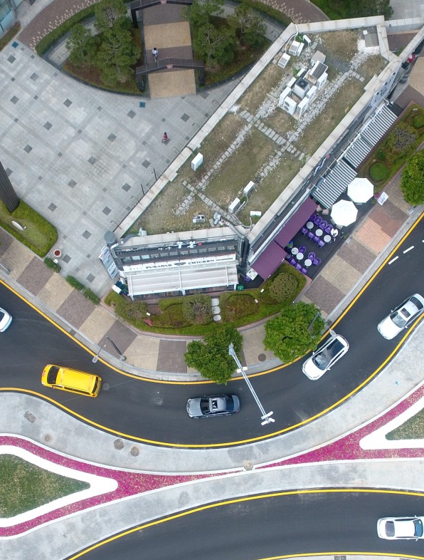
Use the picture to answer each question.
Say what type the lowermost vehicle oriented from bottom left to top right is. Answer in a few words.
car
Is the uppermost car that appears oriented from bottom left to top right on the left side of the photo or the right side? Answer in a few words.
right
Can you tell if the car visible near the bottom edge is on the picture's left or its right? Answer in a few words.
right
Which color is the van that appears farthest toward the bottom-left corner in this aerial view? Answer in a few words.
yellow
